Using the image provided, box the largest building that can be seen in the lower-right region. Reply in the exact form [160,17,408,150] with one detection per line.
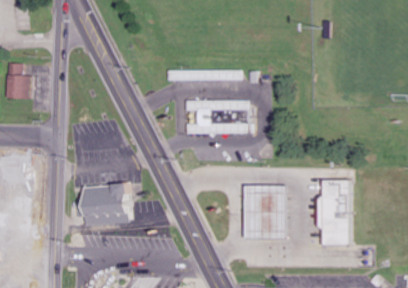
[314,181,352,246]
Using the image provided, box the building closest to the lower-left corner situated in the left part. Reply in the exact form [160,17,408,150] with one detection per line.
[76,183,138,226]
